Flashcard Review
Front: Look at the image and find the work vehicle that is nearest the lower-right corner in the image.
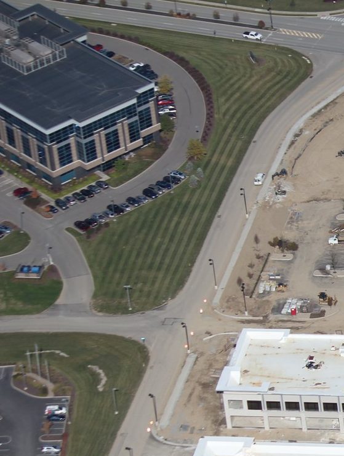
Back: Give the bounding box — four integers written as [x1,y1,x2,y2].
[315,291,332,305]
